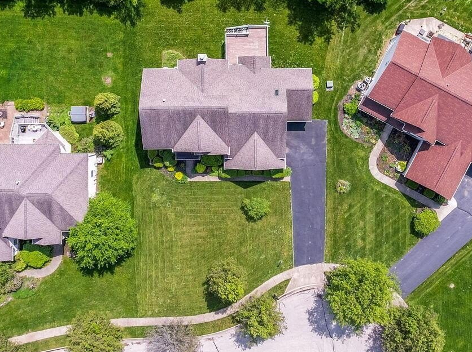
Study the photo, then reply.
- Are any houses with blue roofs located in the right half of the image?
No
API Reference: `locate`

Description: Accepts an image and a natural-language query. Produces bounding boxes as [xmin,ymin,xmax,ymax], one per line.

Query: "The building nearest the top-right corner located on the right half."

[358,30,472,200]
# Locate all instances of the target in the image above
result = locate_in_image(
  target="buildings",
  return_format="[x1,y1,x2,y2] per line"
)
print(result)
[70,106,88,121]
[358,30,472,200]
[0,129,94,264]
[139,54,314,171]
